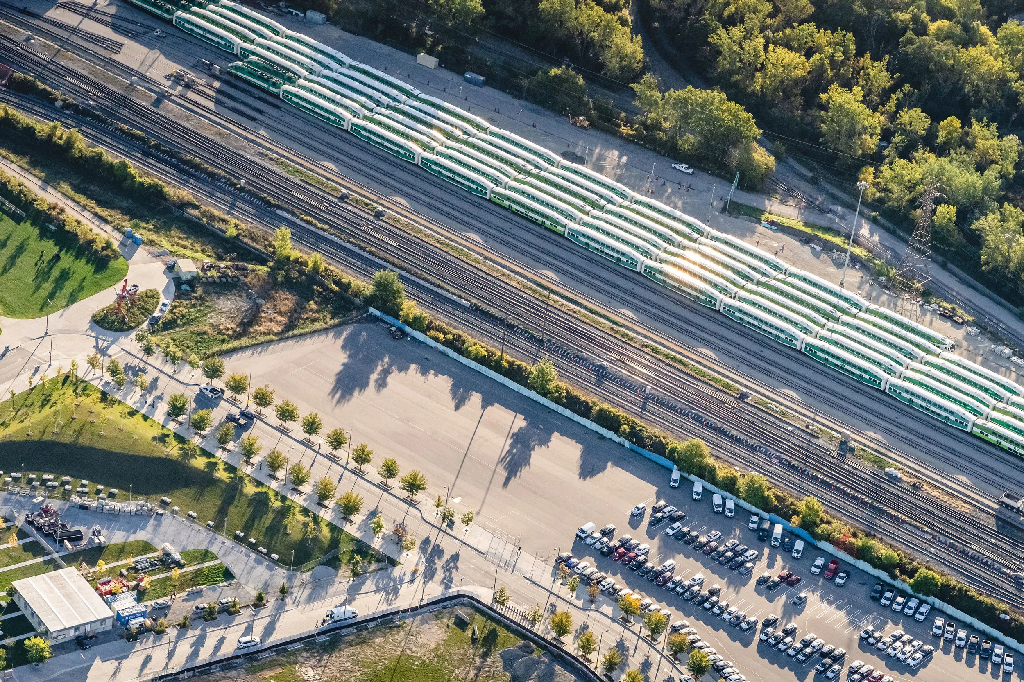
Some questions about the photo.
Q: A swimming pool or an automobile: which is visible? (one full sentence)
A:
Of the two, only an automobile appears.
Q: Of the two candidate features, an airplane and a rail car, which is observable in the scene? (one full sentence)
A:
Of the two, only a rail car appears.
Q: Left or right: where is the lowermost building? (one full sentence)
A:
It is on the left.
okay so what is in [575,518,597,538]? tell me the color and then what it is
white vehicle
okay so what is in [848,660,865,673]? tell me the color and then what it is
white vehicle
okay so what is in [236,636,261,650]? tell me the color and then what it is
white car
